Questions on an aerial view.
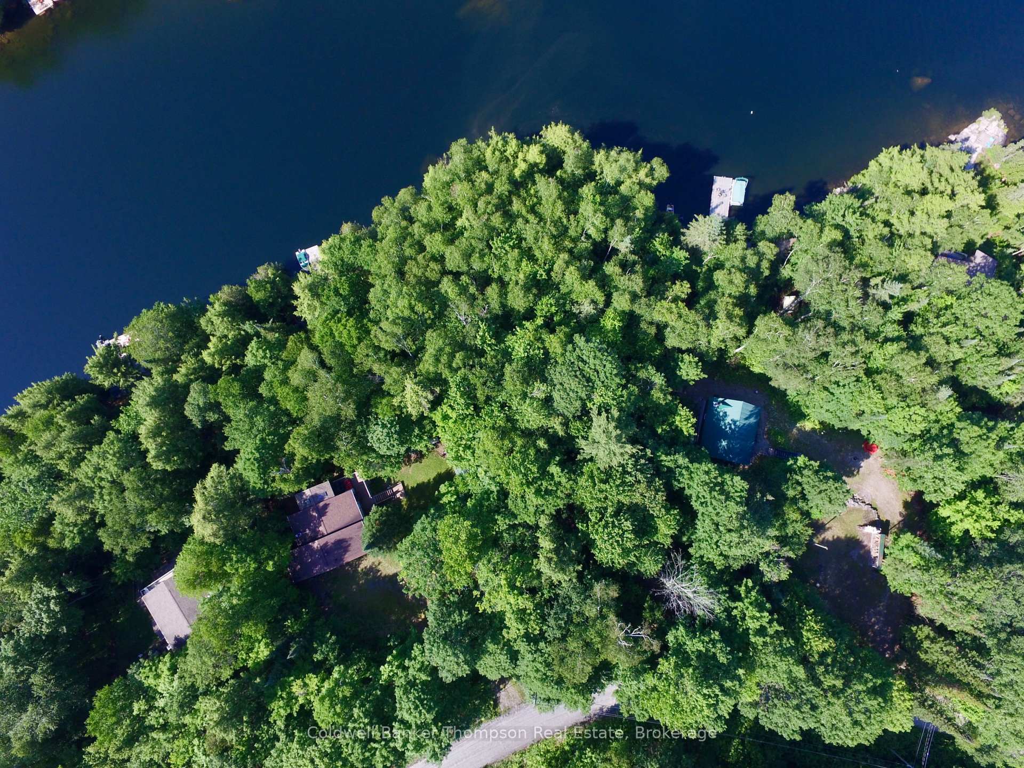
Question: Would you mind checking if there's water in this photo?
Yes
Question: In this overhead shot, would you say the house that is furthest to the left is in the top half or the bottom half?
bottom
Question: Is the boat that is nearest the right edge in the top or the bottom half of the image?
top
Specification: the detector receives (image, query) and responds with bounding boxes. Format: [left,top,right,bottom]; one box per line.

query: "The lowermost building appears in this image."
[136,573,206,649]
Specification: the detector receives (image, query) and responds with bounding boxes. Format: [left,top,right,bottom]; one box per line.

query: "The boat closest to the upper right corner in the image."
[730,174,753,207]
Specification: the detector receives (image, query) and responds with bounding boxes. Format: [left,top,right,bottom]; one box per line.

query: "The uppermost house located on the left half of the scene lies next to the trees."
[288,474,406,582]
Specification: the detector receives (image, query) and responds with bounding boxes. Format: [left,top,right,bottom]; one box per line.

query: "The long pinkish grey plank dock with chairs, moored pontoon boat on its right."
[709,176,733,226]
